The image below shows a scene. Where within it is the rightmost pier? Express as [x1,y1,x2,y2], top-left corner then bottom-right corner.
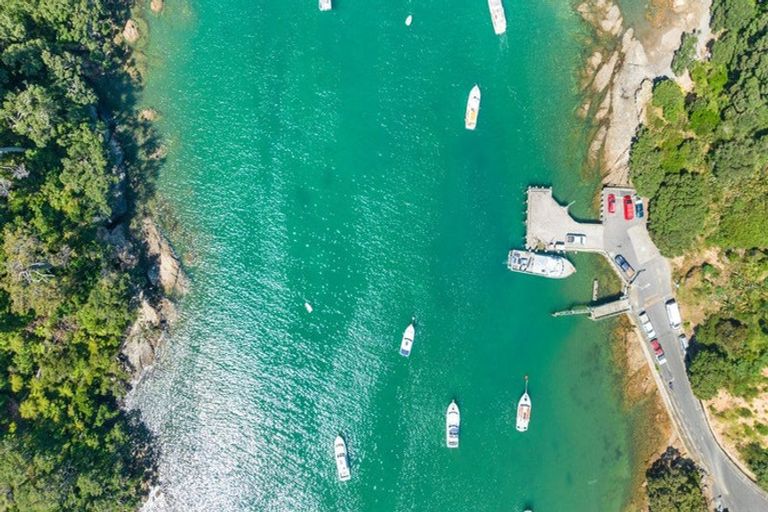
[586,299,630,319]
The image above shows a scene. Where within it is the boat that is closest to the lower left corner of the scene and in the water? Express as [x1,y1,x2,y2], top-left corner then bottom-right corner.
[334,436,350,482]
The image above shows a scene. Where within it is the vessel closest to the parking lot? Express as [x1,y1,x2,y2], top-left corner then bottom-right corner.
[502,250,576,276]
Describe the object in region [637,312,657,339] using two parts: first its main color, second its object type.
white vehicle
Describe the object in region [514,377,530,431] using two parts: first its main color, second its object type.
white boat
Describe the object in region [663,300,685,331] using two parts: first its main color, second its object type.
white vehicle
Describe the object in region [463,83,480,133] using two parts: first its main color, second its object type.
white boat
